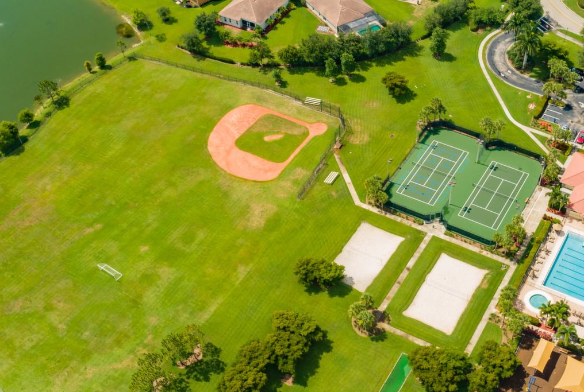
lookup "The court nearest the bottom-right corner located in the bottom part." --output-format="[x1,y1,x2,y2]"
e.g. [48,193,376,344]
[403,253,489,335]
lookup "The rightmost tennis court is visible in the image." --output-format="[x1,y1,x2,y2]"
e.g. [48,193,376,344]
[458,162,529,230]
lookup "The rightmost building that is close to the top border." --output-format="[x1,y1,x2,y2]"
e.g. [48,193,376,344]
[305,0,391,43]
